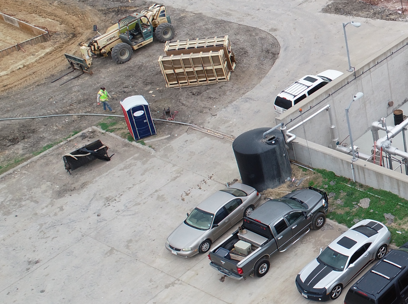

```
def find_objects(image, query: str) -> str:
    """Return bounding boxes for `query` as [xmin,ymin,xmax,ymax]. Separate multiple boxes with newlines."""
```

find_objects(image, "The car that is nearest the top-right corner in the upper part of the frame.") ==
[270,72,341,116]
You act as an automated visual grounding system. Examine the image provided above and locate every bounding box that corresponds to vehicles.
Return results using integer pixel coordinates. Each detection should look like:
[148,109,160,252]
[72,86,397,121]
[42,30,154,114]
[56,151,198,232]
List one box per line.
[206,183,332,283]
[62,1,172,82]
[157,181,264,264]
[288,216,398,304]
[346,242,408,304]
[270,72,341,116]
